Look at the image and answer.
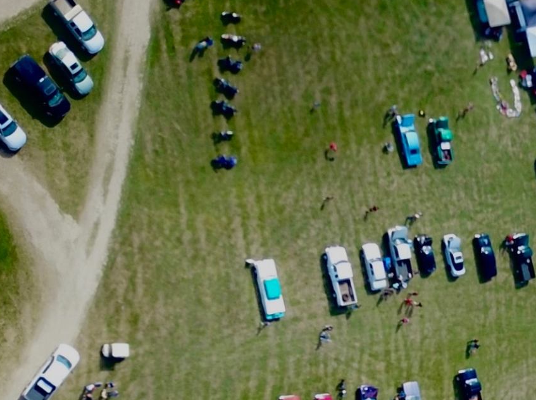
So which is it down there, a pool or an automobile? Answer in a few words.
automobile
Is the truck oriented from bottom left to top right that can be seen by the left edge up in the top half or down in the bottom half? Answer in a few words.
bottom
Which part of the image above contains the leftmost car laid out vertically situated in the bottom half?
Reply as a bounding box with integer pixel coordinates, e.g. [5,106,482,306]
[250,253,286,325]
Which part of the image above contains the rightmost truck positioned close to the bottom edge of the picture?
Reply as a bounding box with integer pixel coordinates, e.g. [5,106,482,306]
[455,367,483,400]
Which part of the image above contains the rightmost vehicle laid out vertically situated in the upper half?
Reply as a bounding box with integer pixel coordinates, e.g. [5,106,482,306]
[429,118,454,166]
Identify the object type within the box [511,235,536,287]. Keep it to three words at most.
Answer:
truck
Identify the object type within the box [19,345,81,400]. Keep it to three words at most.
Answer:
truck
